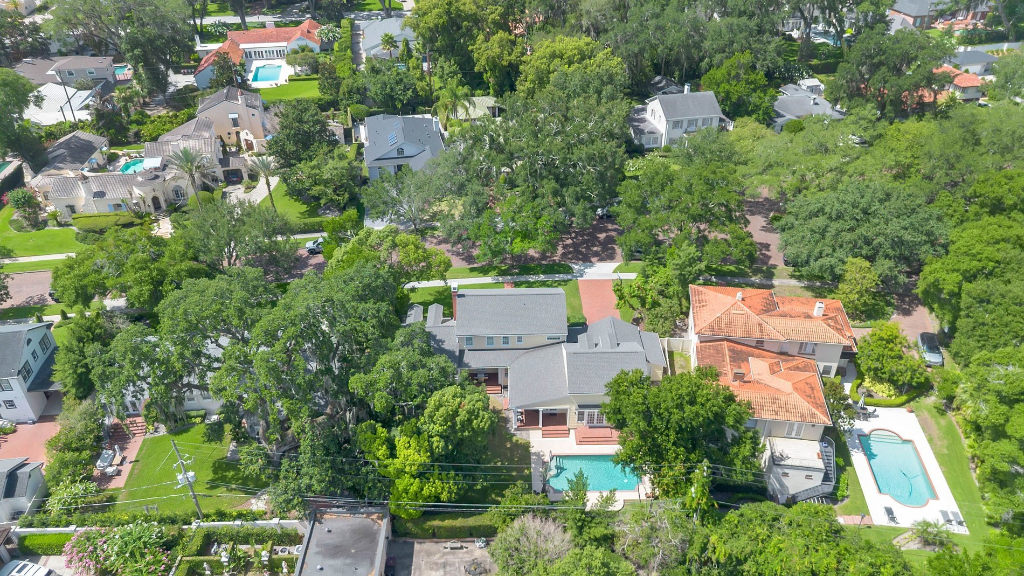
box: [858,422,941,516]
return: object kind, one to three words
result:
swimming pool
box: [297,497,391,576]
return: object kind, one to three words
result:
building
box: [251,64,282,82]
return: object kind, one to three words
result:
swimming pool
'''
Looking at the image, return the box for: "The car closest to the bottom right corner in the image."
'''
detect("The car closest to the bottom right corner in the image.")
[919,331,947,367]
